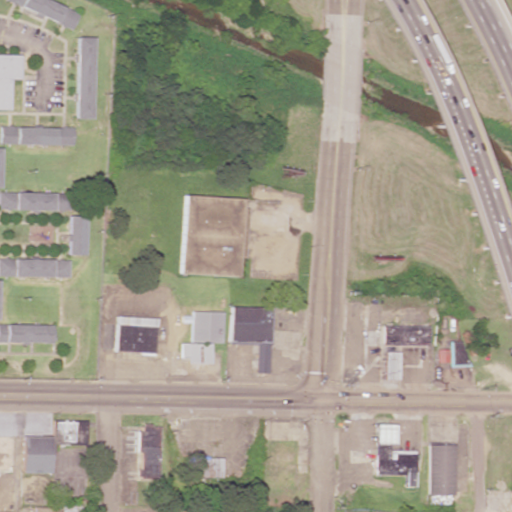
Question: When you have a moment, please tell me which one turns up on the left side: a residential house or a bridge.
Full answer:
There is a residential house on the left side.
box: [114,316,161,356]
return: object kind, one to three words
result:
building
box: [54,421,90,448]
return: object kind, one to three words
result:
house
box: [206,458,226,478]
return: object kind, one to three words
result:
shed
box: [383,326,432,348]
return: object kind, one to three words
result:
building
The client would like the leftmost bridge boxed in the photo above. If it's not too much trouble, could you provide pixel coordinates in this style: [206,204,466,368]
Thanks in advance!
[322,15,364,142]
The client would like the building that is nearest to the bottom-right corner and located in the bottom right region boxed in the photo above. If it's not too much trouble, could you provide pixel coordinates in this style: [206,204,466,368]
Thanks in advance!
[428,444,458,506]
